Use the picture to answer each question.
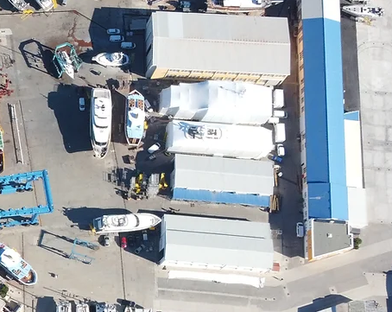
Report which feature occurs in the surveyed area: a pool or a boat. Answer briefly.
boat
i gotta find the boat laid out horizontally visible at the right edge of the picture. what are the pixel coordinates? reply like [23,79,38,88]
[341,2,385,16]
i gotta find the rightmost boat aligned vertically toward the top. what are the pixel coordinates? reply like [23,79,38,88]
[128,87,145,148]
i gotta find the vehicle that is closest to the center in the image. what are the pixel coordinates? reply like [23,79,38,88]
[146,142,163,155]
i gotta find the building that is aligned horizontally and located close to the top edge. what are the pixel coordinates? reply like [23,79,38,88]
[149,12,291,86]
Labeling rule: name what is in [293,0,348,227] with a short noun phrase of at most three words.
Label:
building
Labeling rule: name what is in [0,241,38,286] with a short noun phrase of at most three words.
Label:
boat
